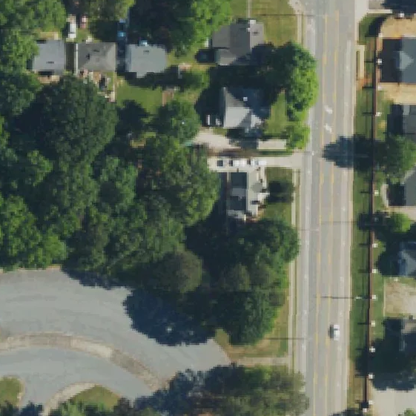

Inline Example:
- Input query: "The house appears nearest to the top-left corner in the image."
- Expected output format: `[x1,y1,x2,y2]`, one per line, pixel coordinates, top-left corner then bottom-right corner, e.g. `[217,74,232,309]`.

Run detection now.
[36,41,65,71]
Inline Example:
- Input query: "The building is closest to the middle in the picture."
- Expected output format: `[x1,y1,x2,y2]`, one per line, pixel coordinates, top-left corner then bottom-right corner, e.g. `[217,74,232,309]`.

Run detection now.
[228,171,273,210]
